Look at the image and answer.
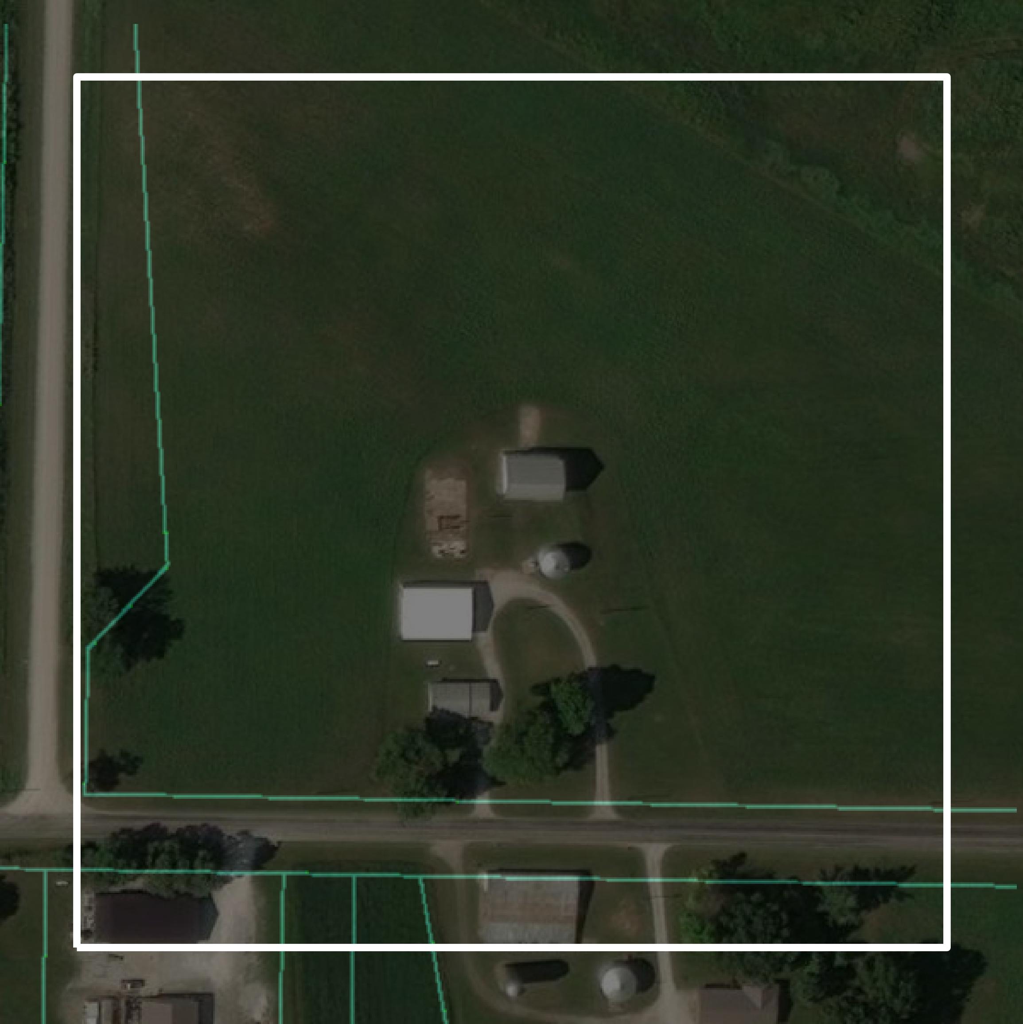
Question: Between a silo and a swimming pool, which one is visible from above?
silo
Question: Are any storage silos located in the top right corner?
No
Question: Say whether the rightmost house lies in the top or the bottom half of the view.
bottom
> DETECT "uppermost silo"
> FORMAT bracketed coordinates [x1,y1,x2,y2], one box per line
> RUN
[536,544,570,579]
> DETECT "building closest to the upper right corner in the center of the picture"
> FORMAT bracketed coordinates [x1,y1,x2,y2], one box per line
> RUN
[501,446,568,500]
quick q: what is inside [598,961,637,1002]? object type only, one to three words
silo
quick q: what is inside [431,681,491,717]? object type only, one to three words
shed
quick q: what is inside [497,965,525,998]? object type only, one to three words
silo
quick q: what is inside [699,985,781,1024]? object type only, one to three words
house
